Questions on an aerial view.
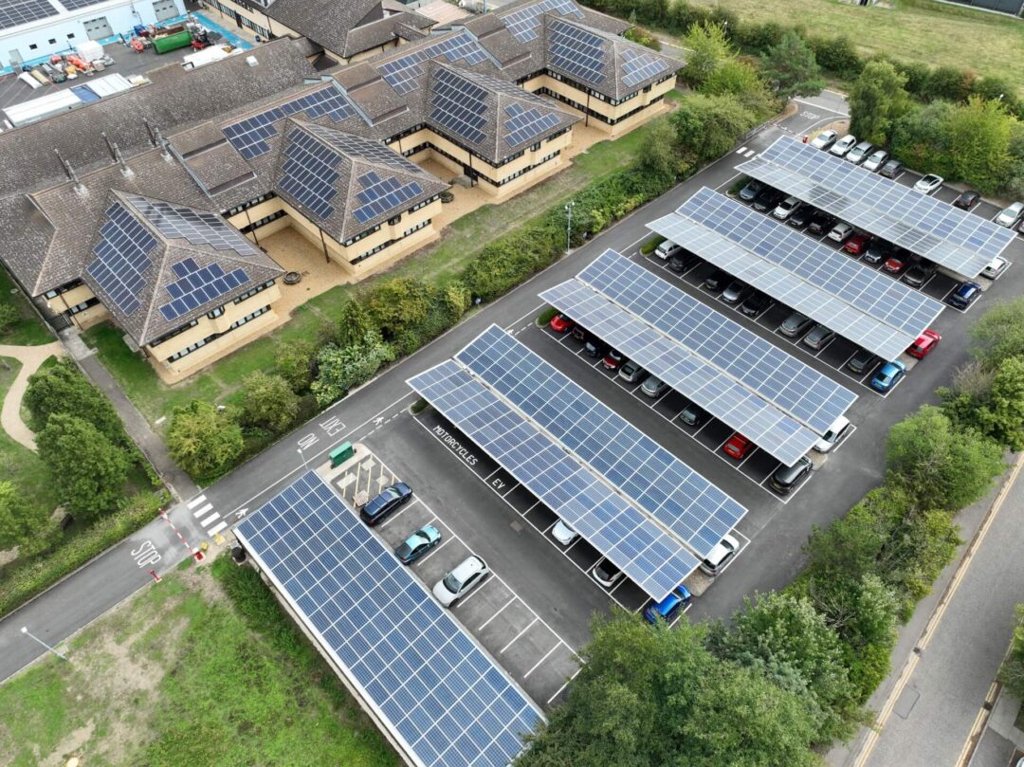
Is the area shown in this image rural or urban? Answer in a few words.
urban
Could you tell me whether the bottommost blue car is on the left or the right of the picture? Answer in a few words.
right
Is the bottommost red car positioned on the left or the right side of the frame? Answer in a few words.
right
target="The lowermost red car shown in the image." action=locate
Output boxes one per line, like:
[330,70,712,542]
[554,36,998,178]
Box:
[724,432,756,460]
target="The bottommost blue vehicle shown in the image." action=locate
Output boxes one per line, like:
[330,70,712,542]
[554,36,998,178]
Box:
[643,584,692,631]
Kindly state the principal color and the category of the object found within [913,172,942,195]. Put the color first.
white car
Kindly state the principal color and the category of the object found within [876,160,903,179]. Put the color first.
gray car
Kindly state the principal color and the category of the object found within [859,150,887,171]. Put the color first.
white car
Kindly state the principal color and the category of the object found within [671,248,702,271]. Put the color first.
black car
